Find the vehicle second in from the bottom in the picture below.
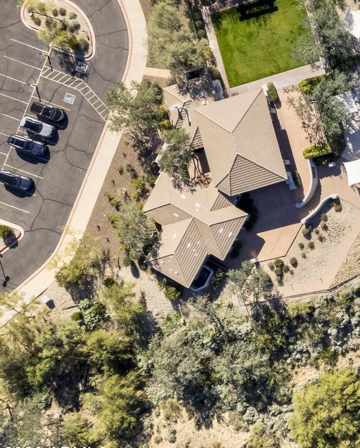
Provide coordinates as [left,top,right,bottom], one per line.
[8,134,47,156]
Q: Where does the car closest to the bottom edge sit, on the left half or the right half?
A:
left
